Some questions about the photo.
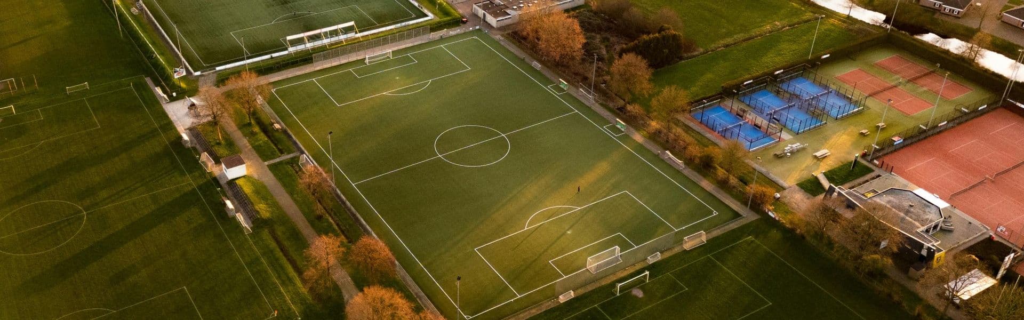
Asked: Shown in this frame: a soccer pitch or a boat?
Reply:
soccer pitch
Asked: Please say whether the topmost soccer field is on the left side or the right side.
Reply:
left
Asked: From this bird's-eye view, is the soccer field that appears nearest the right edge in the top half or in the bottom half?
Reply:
bottom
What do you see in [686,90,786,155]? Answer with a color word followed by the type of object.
blue sports court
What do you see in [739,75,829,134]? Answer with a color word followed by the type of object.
blue sports court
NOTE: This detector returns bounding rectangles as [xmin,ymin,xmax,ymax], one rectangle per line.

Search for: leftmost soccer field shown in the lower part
[0,75,301,320]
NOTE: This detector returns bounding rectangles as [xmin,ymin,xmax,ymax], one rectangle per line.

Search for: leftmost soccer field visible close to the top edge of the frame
[144,0,427,72]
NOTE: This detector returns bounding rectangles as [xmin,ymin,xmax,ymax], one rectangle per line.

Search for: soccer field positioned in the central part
[256,29,743,320]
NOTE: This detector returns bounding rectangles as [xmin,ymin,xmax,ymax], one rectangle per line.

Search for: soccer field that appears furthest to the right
[554,231,872,320]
